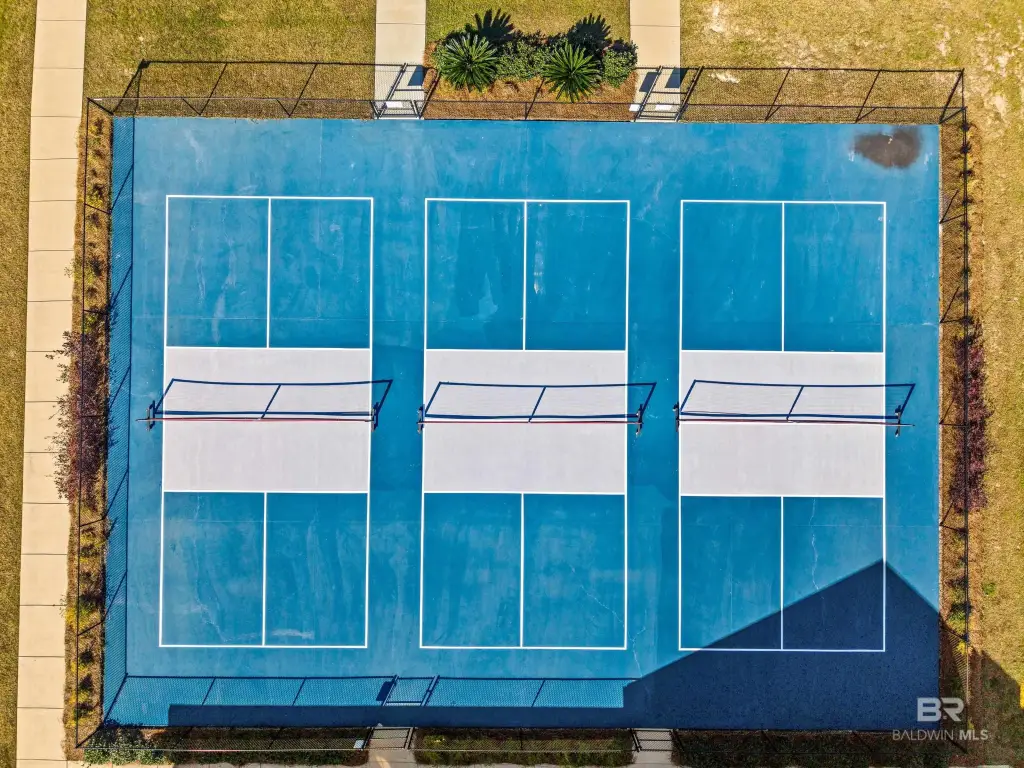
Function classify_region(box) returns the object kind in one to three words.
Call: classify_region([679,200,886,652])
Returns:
sports court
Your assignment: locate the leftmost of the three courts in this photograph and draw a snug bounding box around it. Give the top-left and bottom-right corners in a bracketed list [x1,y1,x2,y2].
[160,196,373,648]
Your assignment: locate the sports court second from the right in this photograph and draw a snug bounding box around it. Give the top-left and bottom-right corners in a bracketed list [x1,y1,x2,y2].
[420,198,629,650]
